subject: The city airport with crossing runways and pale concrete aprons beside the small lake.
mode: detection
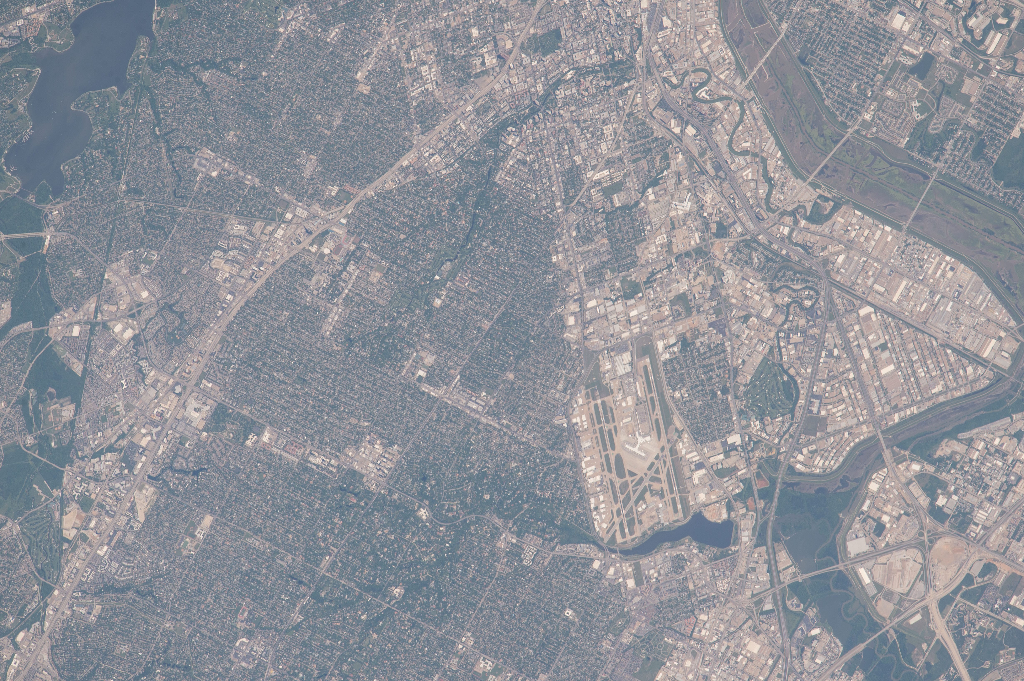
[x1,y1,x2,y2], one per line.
[571,332,697,547]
